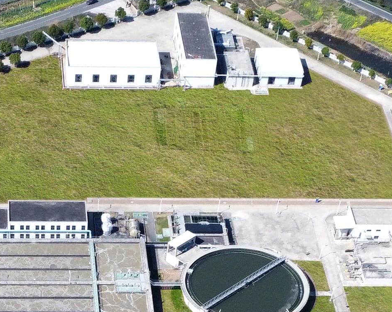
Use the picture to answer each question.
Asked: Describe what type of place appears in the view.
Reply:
industrial area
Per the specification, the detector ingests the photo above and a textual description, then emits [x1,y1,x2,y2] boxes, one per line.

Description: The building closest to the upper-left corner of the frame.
[65,42,161,88]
